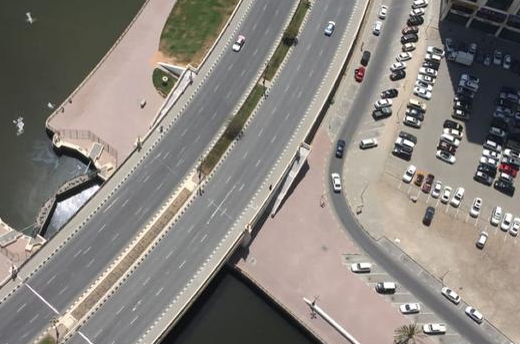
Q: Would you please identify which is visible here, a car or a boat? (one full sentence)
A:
This aerial view contains a car.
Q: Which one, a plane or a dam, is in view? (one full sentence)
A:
The one in the frame is a dam.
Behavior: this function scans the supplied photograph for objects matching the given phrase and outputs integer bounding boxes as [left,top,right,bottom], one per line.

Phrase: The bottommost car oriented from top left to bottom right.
[463,305,485,324]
